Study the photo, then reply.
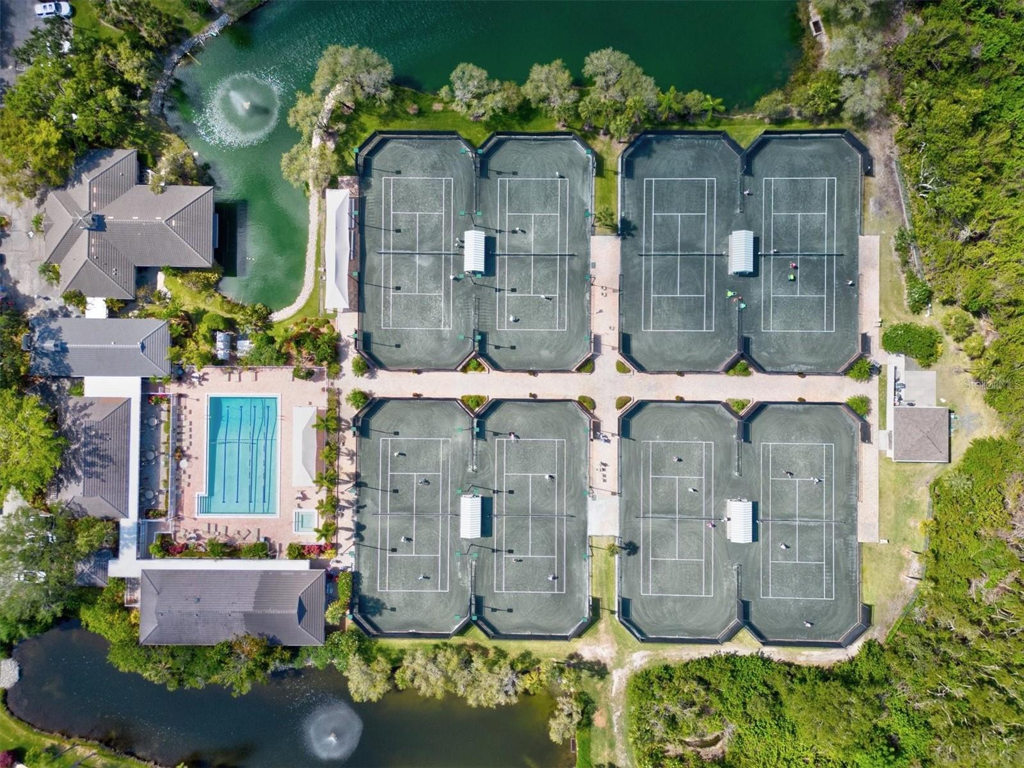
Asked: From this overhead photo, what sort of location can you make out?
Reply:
sports ground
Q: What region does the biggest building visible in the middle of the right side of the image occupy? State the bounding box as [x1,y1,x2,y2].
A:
[888,406,951,463]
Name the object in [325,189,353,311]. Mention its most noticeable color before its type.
white tent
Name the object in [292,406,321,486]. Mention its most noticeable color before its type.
white tent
